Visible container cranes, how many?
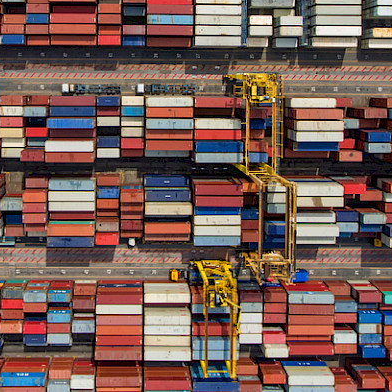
3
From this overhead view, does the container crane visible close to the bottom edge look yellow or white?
yellow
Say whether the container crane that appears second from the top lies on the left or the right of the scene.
right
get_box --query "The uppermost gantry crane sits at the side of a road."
[225,68,284,176]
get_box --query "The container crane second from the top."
[234,166,295,285]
